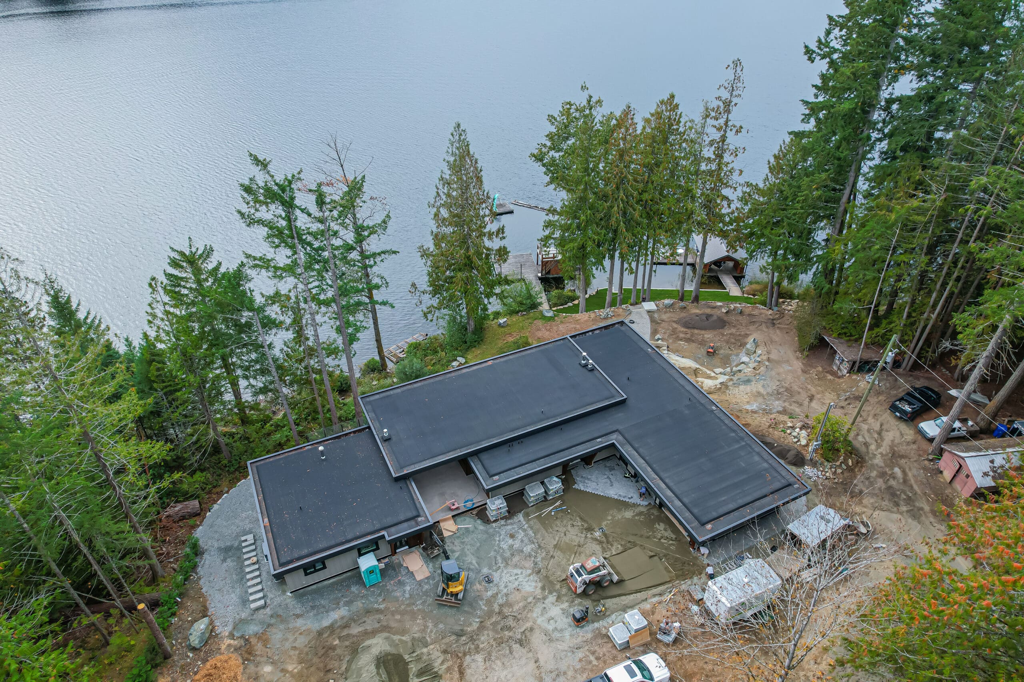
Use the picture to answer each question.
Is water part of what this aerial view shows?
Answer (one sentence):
Yes, water can be seen from above here.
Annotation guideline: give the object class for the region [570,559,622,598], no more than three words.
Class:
work vehicle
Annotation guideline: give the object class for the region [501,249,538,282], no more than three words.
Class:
pier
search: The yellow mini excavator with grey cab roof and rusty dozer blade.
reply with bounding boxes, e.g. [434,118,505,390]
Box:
[435,527,470,611]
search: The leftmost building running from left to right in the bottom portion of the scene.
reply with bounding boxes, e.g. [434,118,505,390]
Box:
[248,315,812,594]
